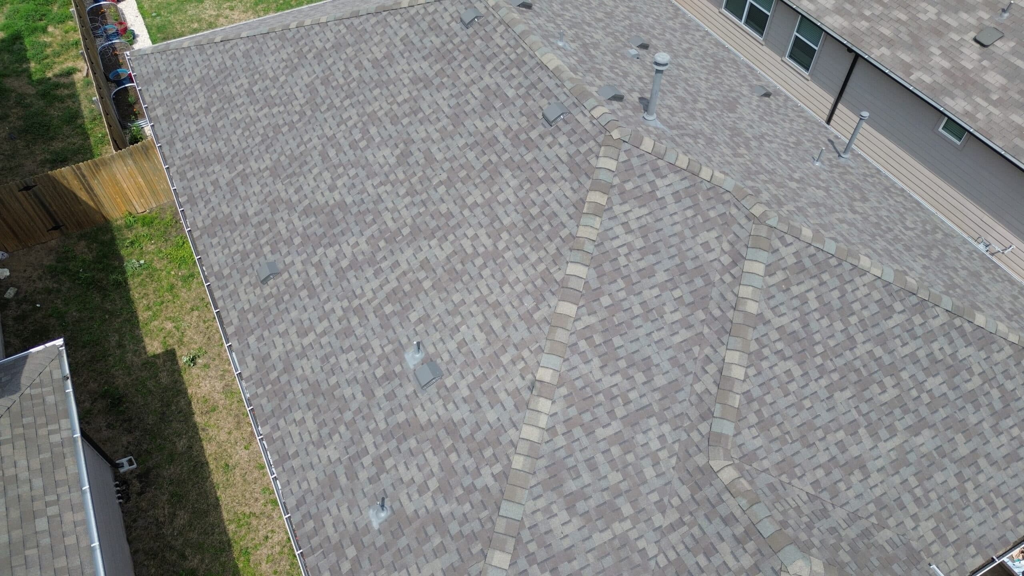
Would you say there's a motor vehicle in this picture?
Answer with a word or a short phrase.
No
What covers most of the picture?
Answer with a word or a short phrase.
buildings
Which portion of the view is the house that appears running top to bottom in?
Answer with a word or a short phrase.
bottom left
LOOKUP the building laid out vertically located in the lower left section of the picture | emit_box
[0,305,138,576]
